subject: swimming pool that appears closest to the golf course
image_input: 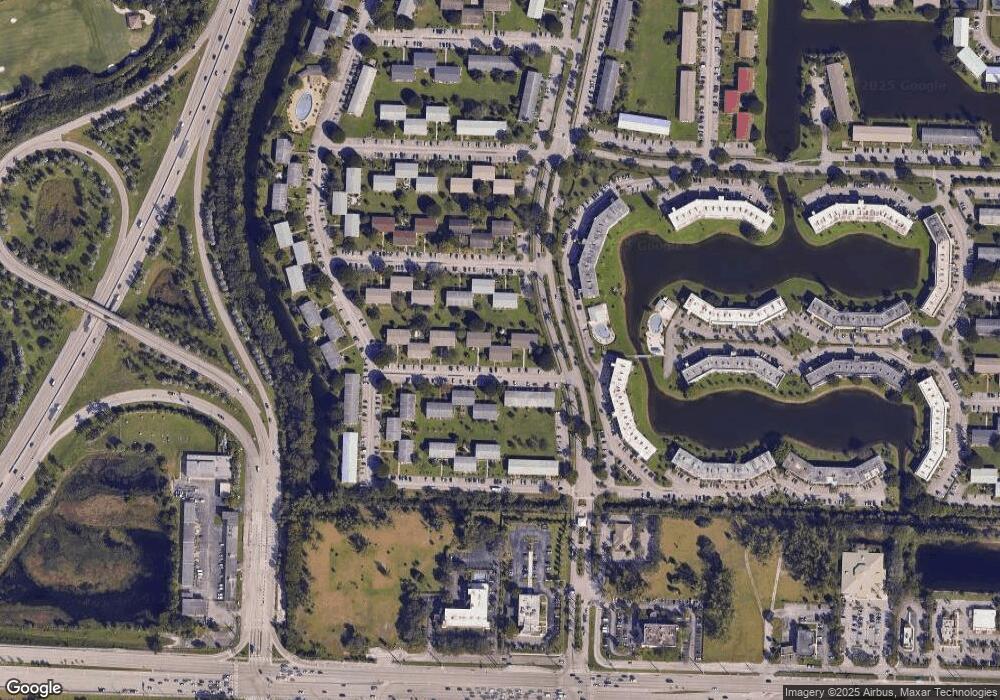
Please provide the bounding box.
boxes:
[287,73,327,133]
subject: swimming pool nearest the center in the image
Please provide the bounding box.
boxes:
[589,320,615,345]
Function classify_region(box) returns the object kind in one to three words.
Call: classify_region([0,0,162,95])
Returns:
golf course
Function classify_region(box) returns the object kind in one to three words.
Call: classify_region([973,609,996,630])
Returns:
building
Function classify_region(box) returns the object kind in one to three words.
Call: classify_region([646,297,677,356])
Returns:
swimming pool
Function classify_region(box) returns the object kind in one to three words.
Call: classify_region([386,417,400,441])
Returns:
house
